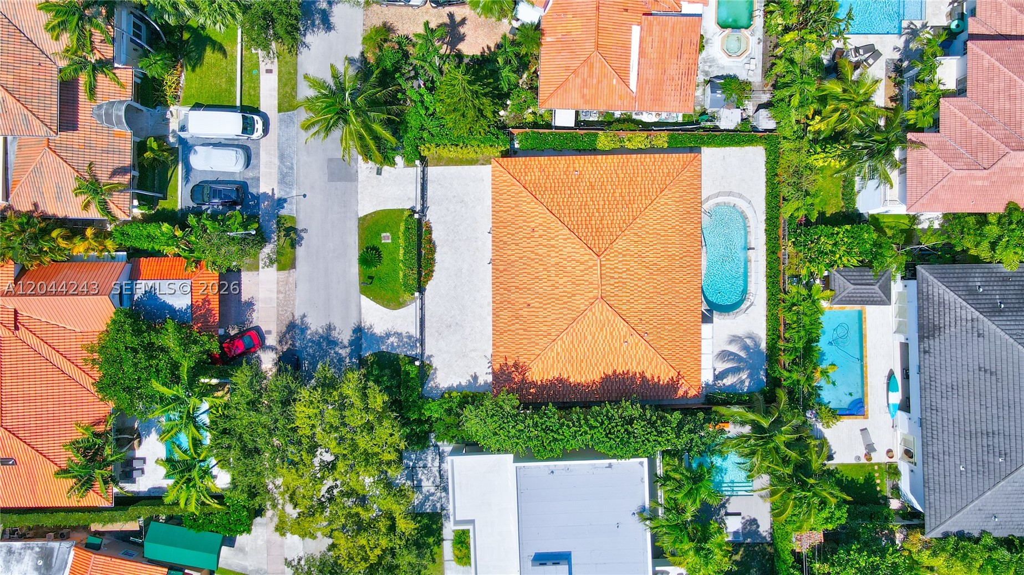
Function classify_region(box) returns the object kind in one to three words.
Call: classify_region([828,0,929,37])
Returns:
swimming pool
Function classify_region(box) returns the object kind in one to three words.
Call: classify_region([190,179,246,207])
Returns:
car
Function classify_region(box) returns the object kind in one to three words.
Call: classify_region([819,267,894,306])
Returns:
gazebo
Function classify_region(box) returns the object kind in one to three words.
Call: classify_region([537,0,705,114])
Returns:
house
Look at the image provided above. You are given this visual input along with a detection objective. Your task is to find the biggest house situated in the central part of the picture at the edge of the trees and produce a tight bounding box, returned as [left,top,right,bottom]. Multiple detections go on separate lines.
[490,153,704,402]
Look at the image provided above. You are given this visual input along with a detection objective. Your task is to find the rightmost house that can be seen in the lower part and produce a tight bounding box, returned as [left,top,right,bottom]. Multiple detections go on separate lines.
[885,264,1024,538]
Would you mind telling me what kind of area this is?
residential area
